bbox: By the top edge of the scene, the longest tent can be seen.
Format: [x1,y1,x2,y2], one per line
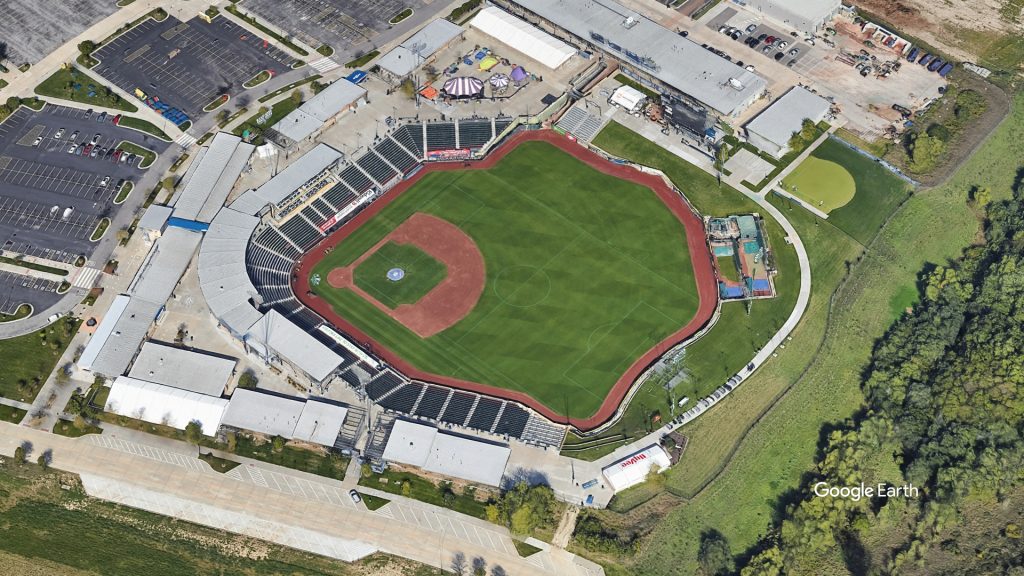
[467,3,576,76]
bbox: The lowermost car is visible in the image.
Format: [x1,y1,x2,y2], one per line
[349,488,361,503]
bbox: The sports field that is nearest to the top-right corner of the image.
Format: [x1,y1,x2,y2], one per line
[772,132,921,247]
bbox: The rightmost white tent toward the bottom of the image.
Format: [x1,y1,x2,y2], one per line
[595,441,671,497]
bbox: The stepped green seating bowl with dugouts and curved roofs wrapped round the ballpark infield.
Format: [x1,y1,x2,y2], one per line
[247,93,725,449]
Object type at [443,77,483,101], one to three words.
tent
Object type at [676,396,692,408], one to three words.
vehicle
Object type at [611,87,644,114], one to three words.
tent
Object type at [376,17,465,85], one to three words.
building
